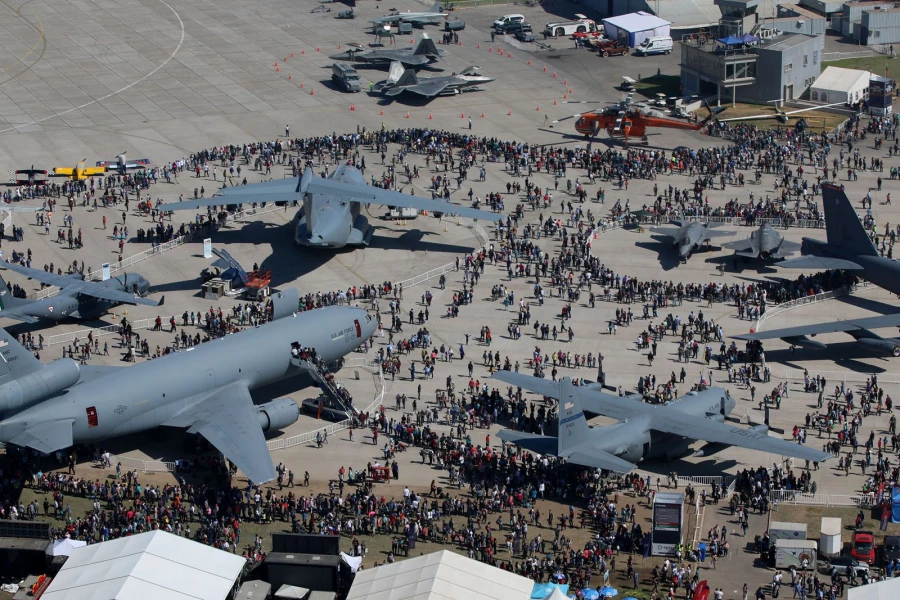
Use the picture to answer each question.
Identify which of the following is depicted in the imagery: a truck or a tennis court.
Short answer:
truck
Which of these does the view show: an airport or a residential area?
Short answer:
airport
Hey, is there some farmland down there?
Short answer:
No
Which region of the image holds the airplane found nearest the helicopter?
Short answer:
top right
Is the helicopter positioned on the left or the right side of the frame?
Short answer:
right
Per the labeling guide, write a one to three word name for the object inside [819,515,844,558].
trailer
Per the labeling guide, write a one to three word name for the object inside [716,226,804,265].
airplane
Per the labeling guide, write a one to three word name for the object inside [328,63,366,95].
truck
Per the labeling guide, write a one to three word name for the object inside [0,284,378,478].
airplane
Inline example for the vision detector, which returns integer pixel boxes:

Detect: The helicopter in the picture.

[560,90,728,148]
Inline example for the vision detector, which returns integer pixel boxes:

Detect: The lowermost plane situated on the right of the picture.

[494,366,832,471]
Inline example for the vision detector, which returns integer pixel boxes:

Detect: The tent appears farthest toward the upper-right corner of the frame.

[807,62,874,105]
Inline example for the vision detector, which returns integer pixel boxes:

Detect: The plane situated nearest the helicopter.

[725,97,841,122]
